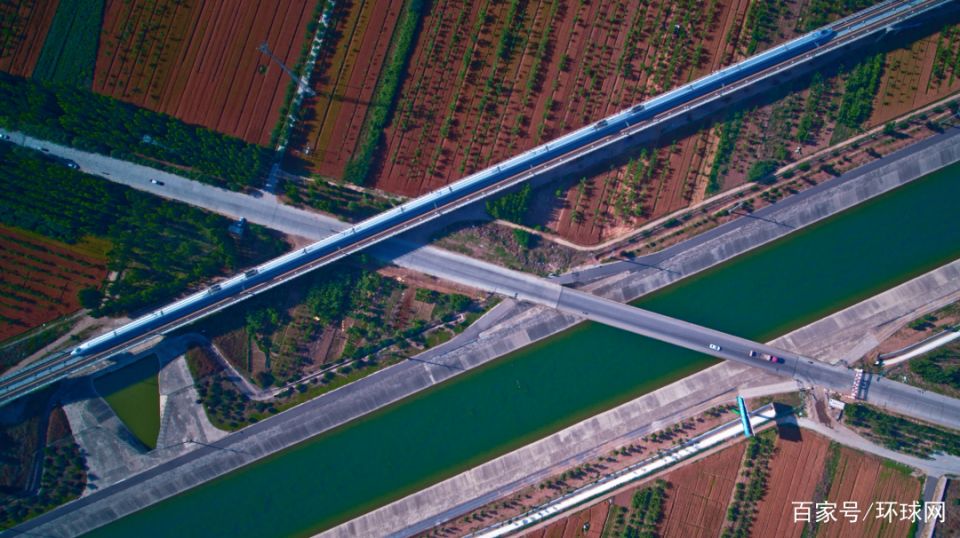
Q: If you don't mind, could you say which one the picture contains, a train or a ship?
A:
train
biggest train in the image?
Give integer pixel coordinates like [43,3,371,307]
[79,30,831,353]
